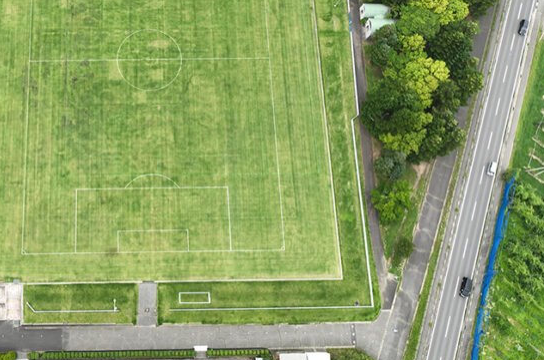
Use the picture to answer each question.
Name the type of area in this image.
sports ground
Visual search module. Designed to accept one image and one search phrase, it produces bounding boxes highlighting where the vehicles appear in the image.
[458,278,472,298]
[517,19,528,35]
[486,161,497,175]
